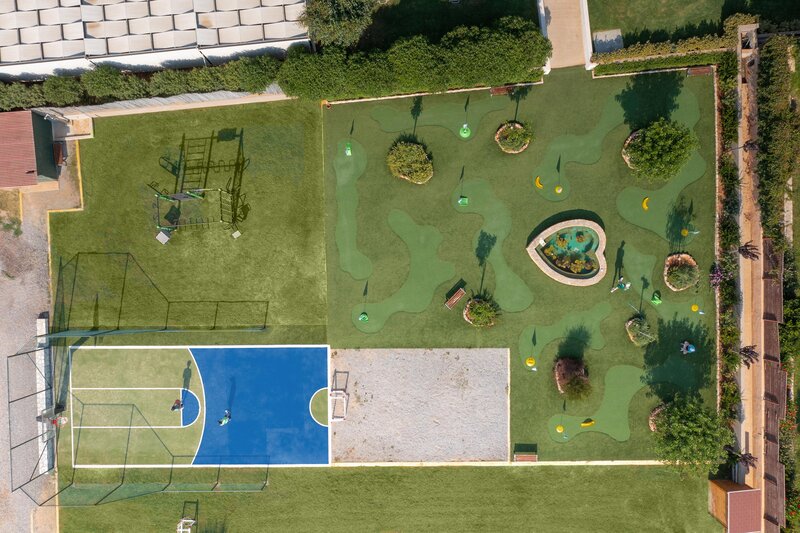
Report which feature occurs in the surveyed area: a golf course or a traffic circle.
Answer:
golf course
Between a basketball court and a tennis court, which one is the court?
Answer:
basketball court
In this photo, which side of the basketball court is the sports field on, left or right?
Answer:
on its right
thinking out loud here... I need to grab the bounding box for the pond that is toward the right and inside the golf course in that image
[526,218,608,286]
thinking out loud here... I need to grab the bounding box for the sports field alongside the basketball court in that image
[331,349,509,462]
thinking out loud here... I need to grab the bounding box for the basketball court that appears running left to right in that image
[71,346,330,467]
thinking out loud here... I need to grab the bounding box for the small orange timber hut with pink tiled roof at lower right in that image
[709,480,762,532]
